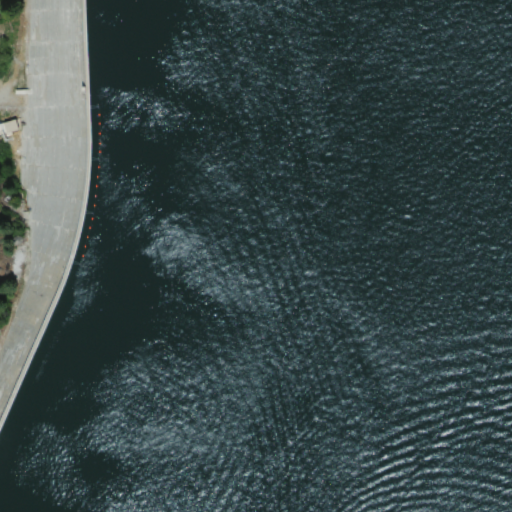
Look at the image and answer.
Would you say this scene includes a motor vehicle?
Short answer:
No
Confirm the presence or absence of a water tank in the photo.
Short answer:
No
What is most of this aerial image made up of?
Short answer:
water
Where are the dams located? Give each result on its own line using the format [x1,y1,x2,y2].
[0,0,91,433]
